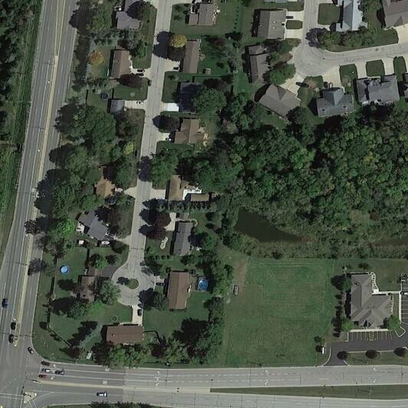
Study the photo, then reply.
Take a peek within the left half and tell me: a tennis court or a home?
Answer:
home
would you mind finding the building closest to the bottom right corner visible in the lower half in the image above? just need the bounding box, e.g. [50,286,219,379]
[350,273,393,328]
